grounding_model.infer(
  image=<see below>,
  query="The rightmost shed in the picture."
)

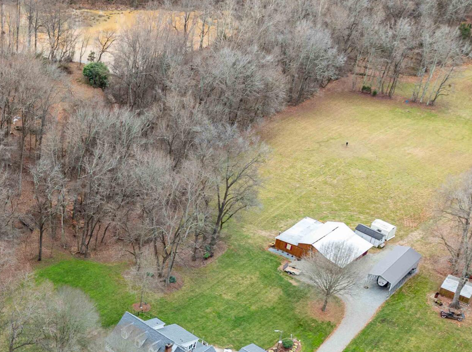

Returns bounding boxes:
[439,275,472,305]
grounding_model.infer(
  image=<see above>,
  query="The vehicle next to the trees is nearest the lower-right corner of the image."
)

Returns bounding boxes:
[440,310,468,324]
